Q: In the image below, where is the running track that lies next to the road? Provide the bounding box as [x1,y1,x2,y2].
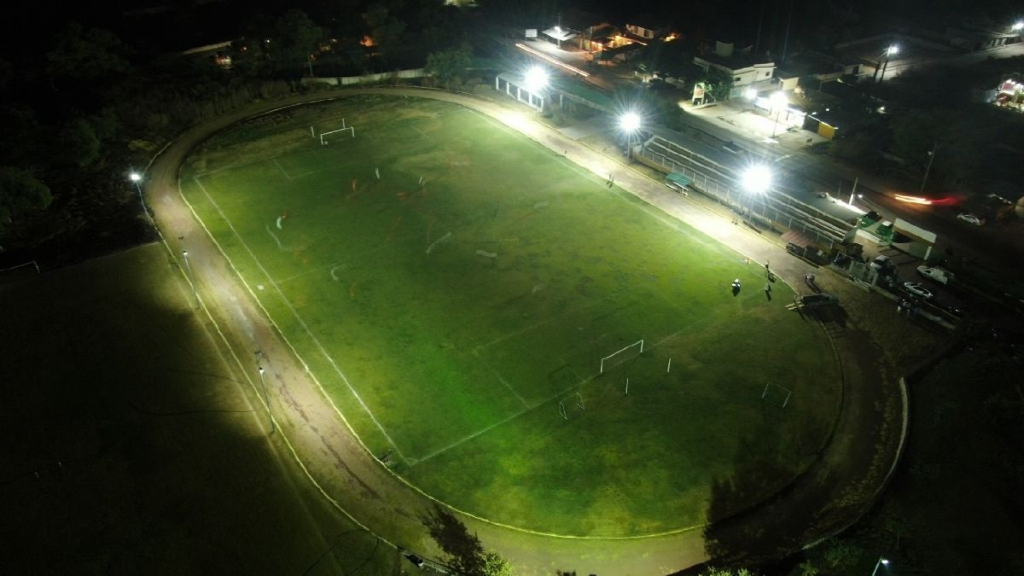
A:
[143,86,904,576]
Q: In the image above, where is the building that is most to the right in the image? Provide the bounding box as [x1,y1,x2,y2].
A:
[974,11,1024,47]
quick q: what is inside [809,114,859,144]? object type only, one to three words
shed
